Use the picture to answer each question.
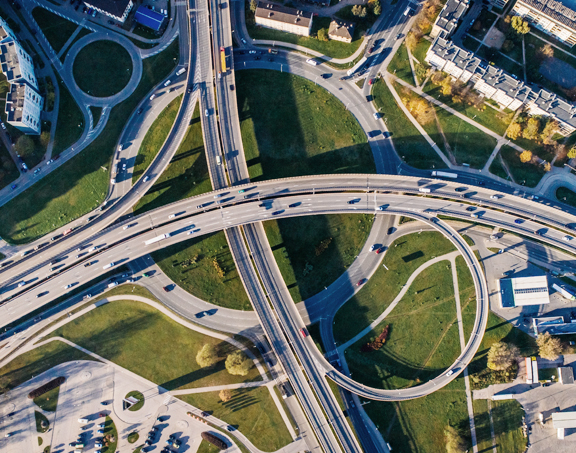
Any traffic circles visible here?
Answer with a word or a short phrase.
Yes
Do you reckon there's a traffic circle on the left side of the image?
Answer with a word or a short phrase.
Yes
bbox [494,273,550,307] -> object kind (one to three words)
building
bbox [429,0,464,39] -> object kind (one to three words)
building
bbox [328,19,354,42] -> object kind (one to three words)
house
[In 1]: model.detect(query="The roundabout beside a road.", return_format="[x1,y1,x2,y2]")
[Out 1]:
[65,32,141,105]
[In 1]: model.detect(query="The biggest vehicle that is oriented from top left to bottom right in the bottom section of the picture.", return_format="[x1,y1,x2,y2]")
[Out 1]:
[548,281,573,299]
